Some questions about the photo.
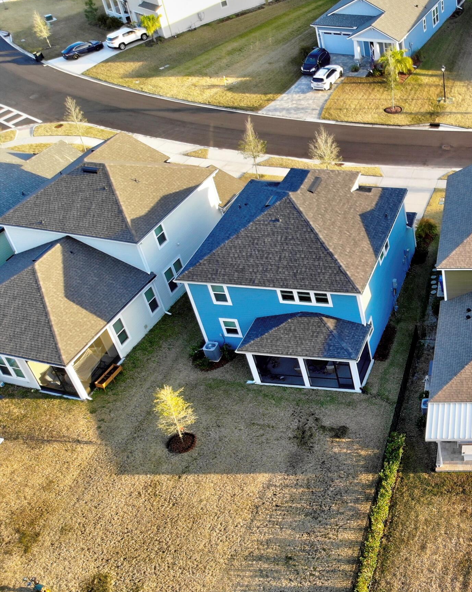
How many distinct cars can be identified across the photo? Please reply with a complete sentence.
I count 4 cars.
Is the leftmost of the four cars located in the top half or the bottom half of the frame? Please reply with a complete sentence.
It is in the top half that the leftmost of the four cars appears.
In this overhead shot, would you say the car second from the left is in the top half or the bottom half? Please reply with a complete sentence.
It is in the top half that the car second from the left appears.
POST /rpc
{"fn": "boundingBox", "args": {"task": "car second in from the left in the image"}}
[101,26,147,50]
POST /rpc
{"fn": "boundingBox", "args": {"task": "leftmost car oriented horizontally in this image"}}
[56,39,101,59]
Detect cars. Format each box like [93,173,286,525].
[56,39,101,59]
[310,66,341,89]
[101,26,147,50]
[302,43,326,69]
